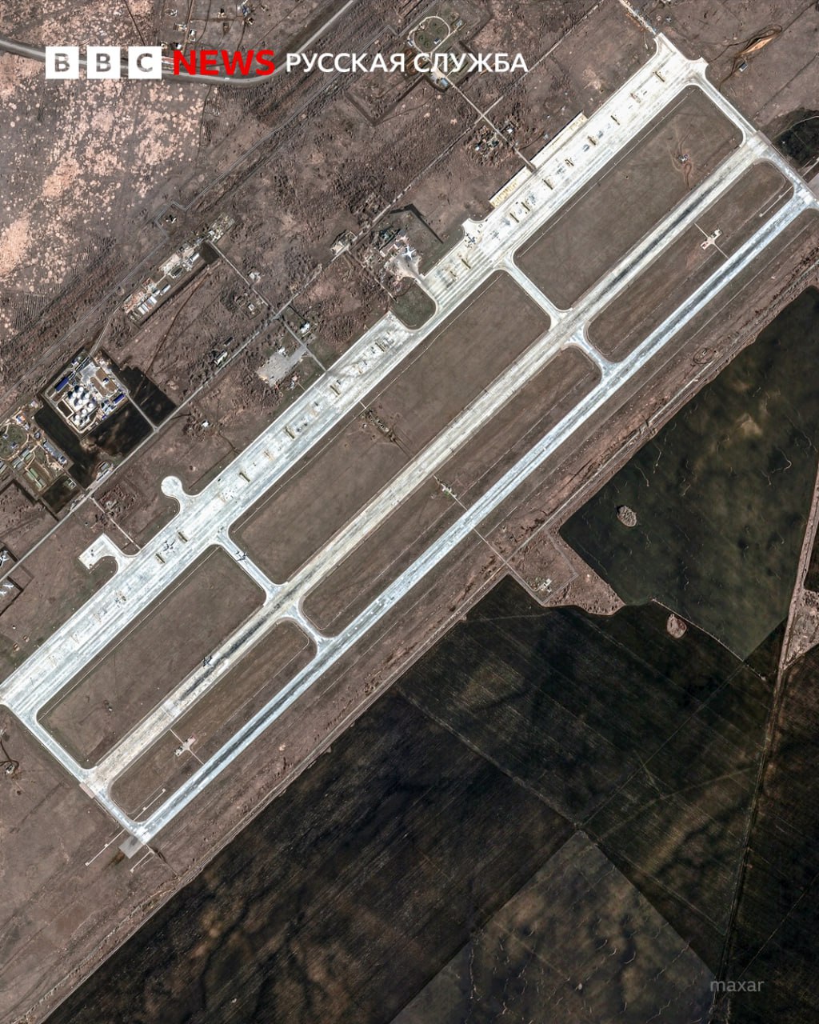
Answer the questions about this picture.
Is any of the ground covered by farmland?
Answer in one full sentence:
Yes, farmland can be seen from above here.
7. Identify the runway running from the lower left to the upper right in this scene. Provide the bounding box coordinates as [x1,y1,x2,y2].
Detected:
[85,132,769,787]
